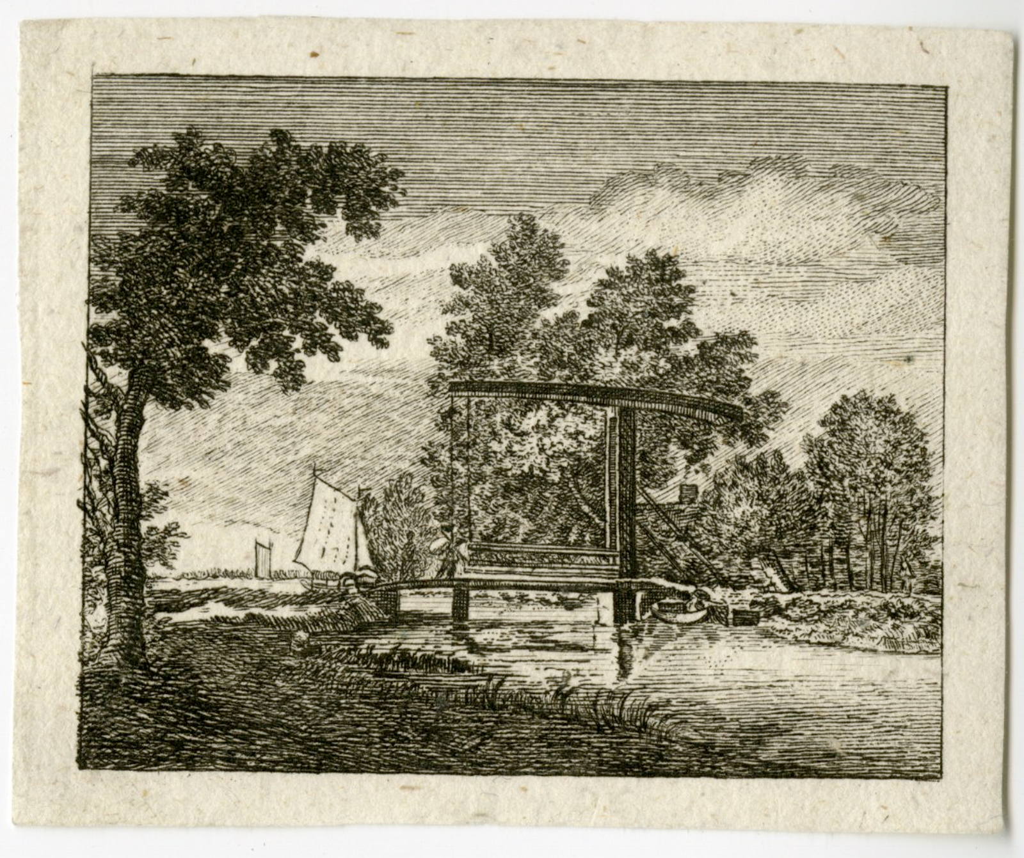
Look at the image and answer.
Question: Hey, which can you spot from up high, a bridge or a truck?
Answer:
bridge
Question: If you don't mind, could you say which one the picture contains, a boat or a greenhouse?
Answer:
boat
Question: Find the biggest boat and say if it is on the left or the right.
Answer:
left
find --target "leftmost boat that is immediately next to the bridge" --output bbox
[293,465,379,596]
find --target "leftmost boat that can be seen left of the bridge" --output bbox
[255,539,272,580]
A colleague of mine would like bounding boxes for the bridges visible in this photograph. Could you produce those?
[360,381,744,625]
